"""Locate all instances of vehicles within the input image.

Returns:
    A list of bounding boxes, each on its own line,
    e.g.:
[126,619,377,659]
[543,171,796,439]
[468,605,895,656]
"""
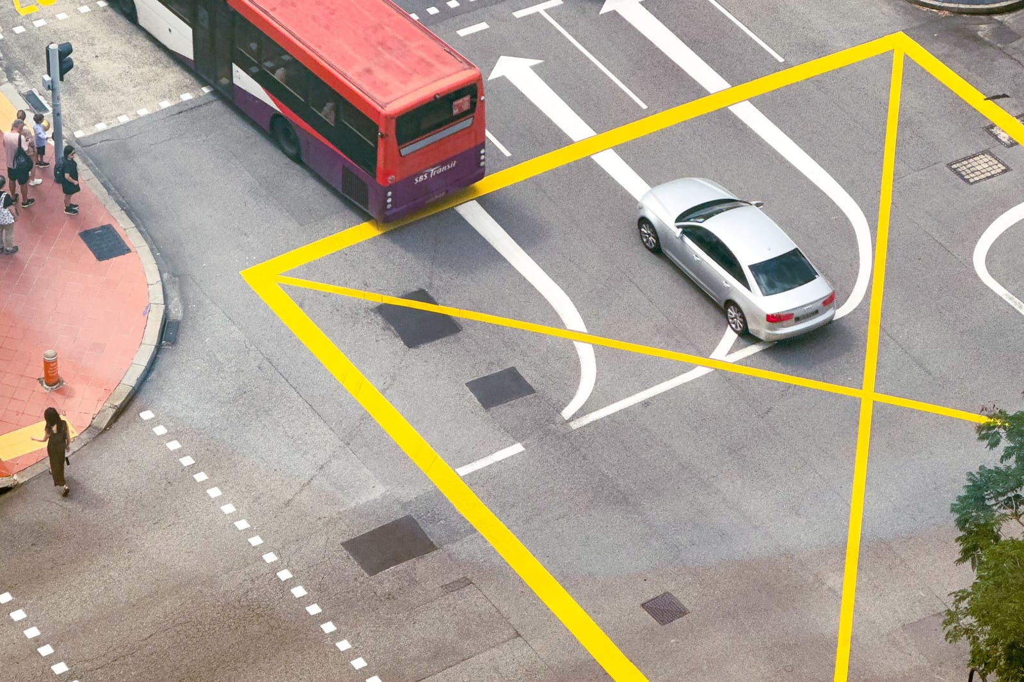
[641,179,835,345]
[111,0,488,221]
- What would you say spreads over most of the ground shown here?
paved ground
